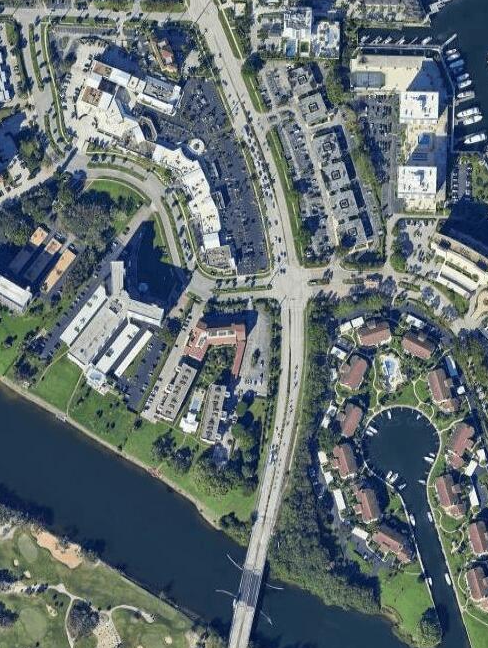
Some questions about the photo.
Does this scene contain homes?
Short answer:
Yes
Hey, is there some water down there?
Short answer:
Yes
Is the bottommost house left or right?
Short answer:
right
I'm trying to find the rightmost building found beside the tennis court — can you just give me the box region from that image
[400,92,438,128]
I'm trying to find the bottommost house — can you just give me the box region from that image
[465,567,488,610]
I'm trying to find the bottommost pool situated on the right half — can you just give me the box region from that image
[380,352,402,387]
